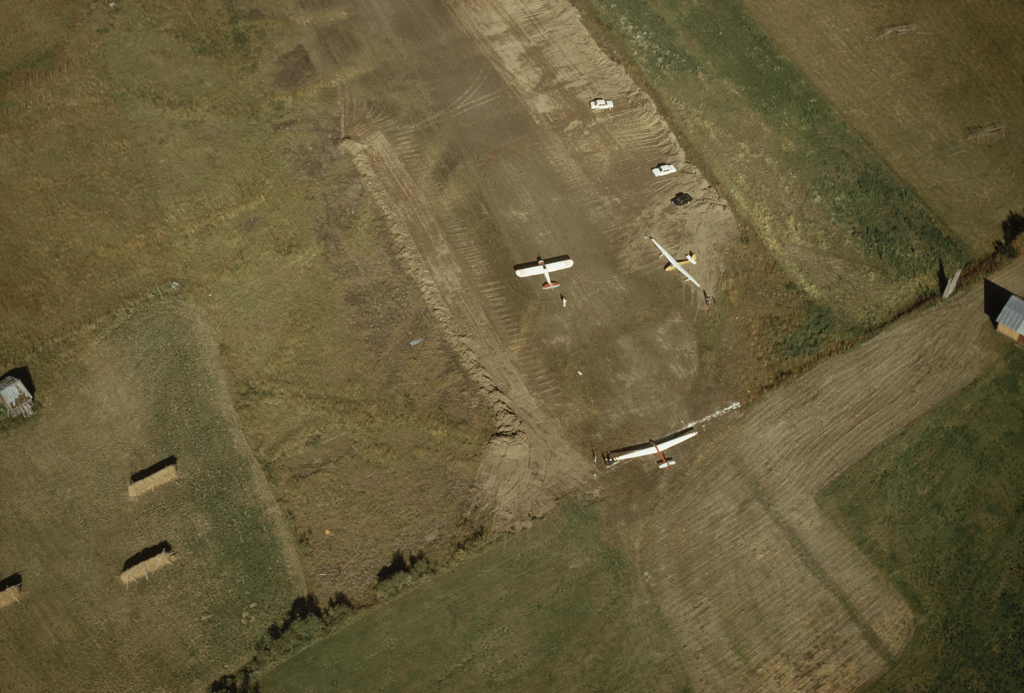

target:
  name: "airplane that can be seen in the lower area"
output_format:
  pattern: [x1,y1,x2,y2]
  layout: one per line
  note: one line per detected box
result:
[613,432,700,472]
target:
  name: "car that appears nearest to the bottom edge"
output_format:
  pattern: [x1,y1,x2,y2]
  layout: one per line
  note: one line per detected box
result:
[671,194,694,207]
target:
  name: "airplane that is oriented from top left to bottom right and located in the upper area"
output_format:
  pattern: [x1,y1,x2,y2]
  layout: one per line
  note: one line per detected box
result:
[651,238,701,286]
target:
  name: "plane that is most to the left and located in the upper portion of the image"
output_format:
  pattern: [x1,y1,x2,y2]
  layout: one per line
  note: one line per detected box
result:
[515,258,574,289]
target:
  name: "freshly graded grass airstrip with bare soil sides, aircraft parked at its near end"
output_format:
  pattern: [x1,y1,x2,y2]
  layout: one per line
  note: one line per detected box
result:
[293,0,744,558]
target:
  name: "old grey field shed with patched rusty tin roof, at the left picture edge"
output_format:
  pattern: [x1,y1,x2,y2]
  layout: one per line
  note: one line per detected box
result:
[0,374,32,416]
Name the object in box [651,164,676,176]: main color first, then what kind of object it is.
white vehicle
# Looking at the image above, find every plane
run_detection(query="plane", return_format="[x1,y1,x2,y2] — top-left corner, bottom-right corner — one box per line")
[651,238,701,286]
[613,432,700,472]
[515,258,574,289]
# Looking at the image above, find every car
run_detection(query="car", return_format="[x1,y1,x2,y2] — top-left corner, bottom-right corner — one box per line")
[671,194,694,207]
[651,164,676,176]
[591,100,615,110]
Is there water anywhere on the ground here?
No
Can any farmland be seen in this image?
Yes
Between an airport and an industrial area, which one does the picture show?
airport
